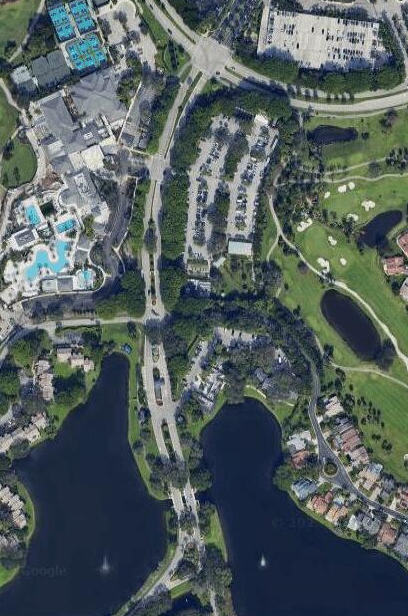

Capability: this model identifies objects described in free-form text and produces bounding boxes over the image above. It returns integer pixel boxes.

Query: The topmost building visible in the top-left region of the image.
[74,66,125,116]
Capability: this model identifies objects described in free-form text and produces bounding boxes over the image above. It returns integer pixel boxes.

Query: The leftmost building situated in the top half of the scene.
[9,226,39,252]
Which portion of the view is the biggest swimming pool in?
left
